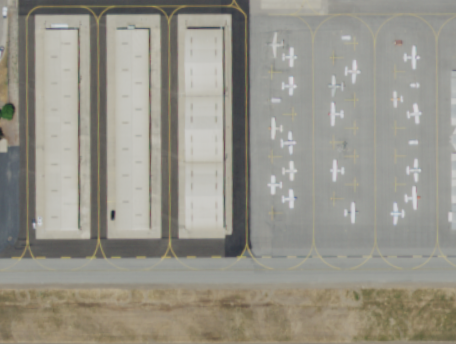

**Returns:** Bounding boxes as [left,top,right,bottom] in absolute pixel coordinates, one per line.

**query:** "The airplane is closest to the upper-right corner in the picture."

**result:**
[404,44,420,69]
